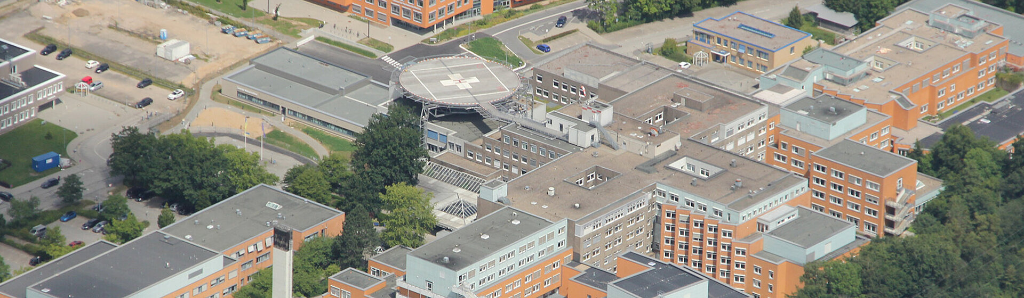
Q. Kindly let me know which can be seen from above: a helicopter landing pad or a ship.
helicopter landing pad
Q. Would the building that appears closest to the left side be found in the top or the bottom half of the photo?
top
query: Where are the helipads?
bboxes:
[391,55,573,171]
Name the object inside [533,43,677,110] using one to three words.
building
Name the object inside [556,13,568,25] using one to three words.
vehicle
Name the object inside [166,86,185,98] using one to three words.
vehicle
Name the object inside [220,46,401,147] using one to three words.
building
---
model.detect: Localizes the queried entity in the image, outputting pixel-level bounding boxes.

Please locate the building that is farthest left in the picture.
[0,38,68,133]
